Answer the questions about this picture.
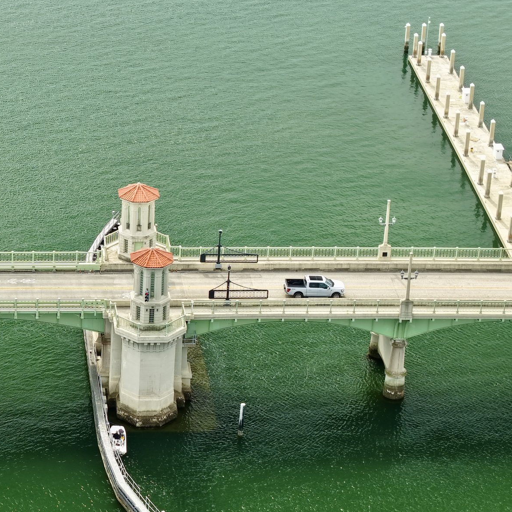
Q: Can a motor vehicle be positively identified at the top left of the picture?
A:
No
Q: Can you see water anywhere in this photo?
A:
Yes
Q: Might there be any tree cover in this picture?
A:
No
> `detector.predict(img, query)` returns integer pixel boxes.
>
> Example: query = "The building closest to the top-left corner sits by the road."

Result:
[114,182,160,261]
